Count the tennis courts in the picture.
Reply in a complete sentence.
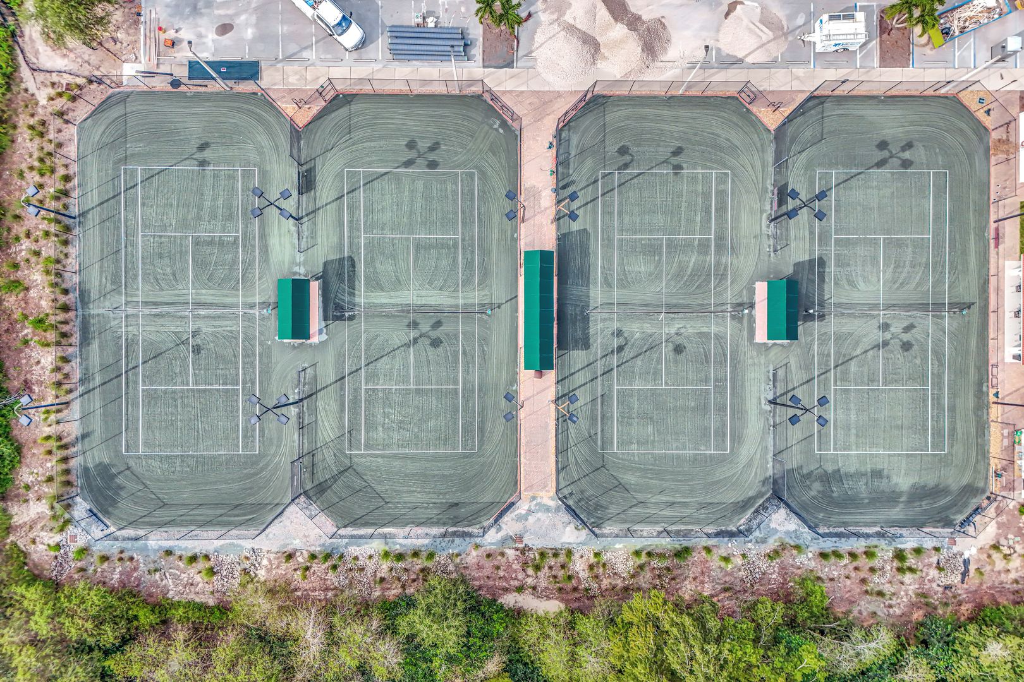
There are 4 tennis courts in the image.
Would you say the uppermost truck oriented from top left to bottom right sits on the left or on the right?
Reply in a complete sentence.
The uppermost truck oriented from top left to bottom right sits on the left side.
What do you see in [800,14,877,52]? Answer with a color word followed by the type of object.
white trailer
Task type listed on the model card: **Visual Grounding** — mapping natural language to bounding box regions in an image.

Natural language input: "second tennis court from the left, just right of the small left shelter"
[300,92,522,530]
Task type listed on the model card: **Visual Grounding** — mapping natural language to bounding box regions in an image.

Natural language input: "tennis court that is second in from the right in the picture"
[555,93,775,529]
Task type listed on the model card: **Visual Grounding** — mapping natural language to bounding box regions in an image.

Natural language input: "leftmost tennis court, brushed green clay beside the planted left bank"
[76,90,300,530]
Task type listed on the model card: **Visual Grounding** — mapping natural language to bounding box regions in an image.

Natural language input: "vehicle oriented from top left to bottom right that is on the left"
[293,0,363,50]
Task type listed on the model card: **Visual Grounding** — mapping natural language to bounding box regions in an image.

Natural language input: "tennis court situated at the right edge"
[773,93,992,528]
